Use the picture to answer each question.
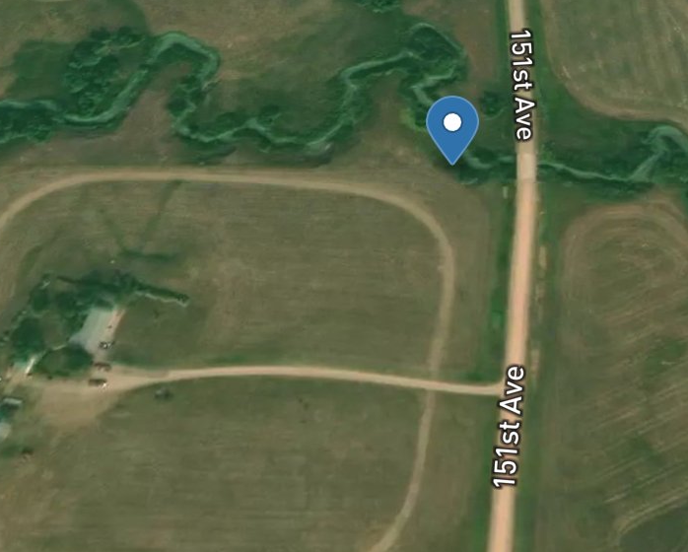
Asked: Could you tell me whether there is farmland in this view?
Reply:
Yes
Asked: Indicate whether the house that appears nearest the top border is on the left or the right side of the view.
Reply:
left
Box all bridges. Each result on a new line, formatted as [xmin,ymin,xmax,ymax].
[516,150,538,180]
